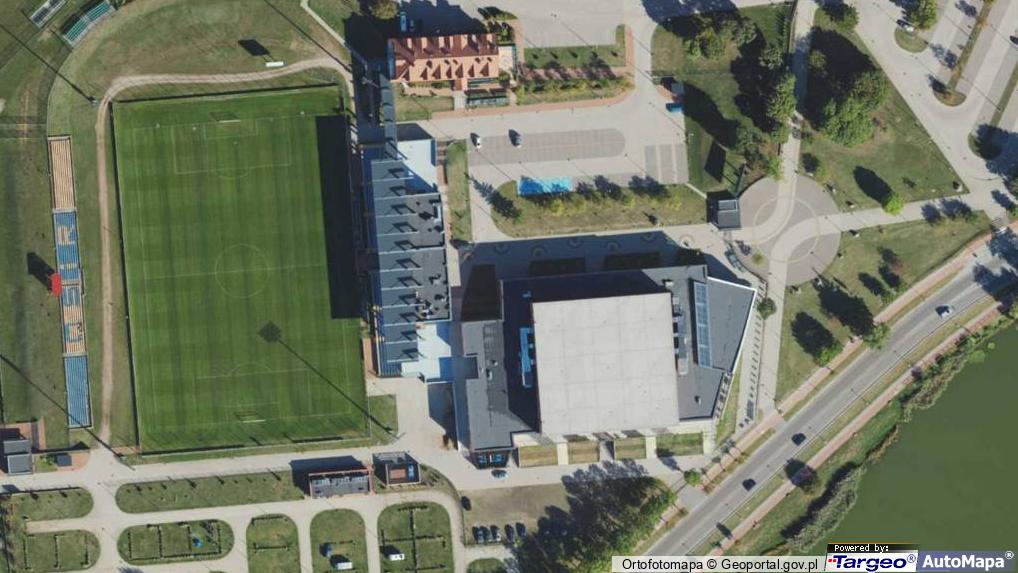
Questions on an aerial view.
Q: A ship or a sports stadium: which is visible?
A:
sports stadium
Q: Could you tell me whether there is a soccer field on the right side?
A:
No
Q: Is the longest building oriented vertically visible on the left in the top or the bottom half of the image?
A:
top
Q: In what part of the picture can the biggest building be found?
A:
top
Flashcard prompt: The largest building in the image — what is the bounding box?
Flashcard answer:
[391,33,498,90]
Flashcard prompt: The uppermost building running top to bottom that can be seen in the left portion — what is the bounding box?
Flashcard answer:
[376,70,398,155]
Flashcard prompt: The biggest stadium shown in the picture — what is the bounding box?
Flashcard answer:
[454,264,758,468]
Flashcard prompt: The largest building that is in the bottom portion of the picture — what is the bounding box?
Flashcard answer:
[307,466,377,498]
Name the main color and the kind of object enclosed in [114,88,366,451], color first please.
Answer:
green soccer field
